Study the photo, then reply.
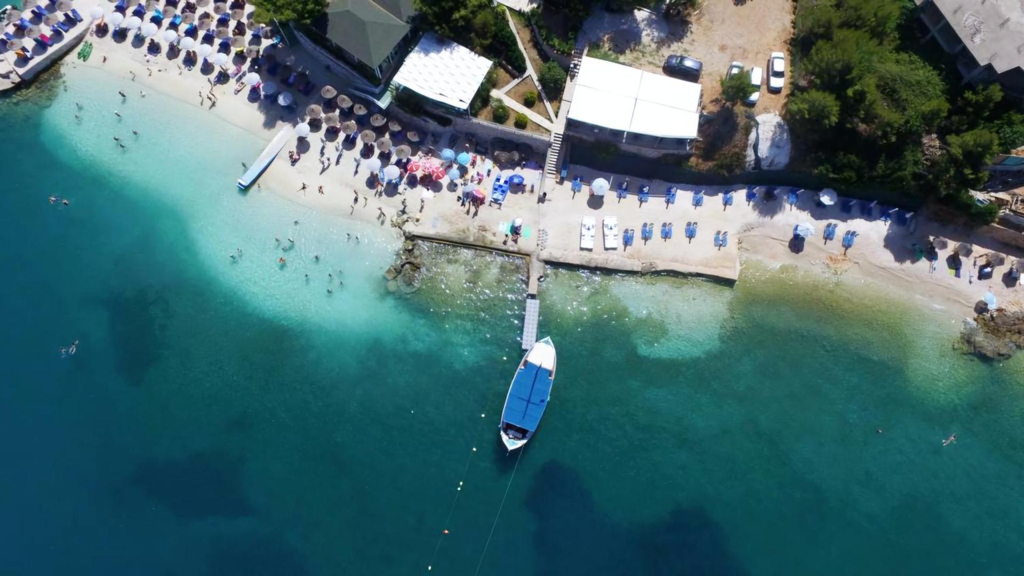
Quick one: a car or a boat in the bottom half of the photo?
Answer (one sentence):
It is a boat that can be seen in the bottom half of the photo.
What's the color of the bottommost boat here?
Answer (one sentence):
From above, the bottommost boat appears blue.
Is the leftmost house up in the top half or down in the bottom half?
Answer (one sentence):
It is in the top half that the leftmost house appears.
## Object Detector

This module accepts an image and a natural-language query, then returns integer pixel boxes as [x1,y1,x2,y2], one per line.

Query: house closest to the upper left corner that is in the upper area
[326,0,415,80]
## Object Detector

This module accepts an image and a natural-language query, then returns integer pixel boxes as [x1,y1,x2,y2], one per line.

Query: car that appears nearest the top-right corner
[767,54,784,91]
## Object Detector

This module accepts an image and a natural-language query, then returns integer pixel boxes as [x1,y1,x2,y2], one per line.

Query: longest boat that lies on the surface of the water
[500,337,554,453]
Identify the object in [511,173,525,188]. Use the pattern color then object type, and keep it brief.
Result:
blue umbrella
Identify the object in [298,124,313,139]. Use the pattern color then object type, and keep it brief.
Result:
white umbrella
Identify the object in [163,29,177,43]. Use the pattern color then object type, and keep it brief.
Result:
white umbrella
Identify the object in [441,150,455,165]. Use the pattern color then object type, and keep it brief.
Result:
blue umbrella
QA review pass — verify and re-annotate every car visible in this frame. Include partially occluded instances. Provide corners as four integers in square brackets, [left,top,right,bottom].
[663,53,704,77]
[725,62,747,95]
[745,66,764,104]
[767,54,784,91]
